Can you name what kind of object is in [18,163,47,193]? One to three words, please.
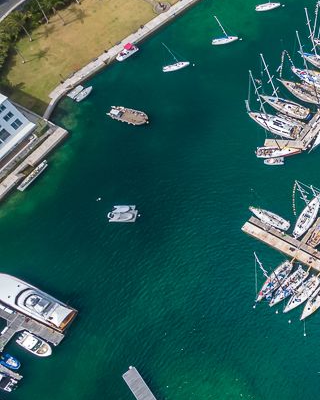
boat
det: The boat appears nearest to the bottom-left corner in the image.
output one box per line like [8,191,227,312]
[0,370,20,395]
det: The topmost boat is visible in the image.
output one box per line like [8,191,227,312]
[257,0,280,13]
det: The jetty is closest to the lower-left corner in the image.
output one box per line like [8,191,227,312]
[0,309,65,381]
